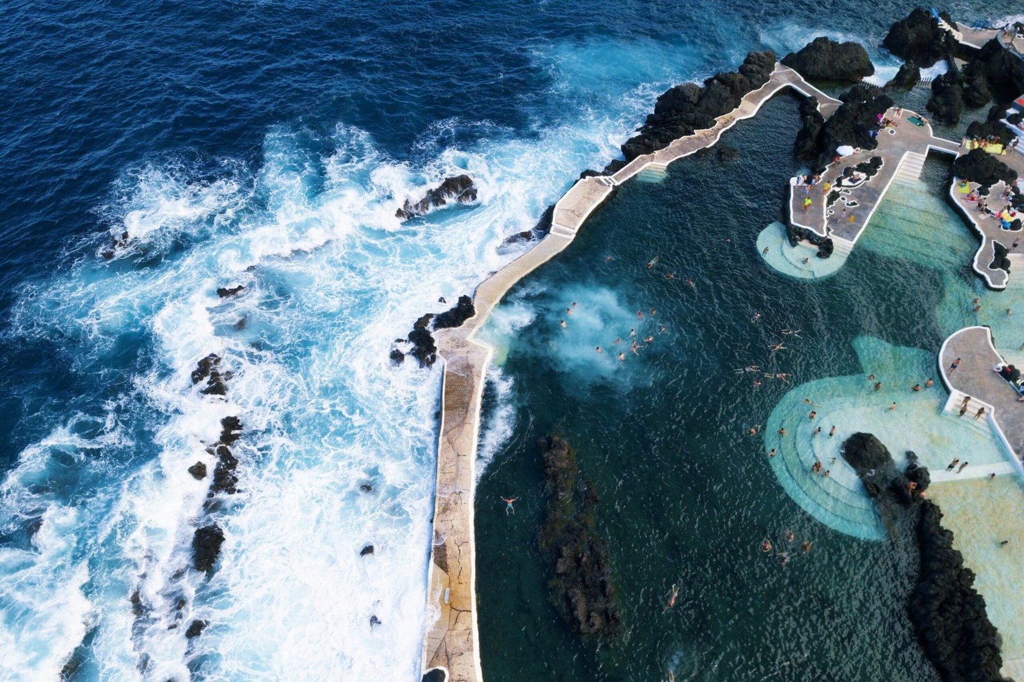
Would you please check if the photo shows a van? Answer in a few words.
No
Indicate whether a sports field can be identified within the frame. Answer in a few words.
No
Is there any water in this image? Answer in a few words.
Yes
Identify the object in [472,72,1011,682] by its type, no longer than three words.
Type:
swimming pool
